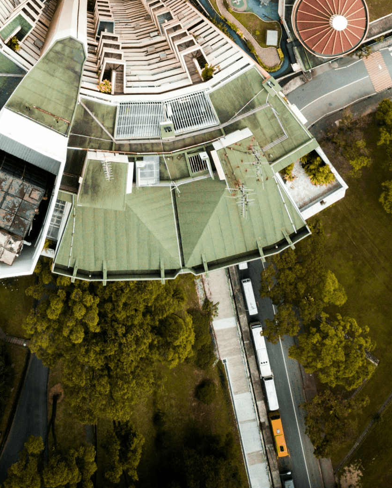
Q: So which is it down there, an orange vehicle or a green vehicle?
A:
orange vehicle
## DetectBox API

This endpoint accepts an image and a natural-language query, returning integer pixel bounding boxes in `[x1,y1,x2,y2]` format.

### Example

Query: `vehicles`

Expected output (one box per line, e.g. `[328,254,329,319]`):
[237,262,250,274]
[280,470,295,488]
[248,319,273,377]
[239,274,259,315]
[261,375,280,412]
[267,410,290,457]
